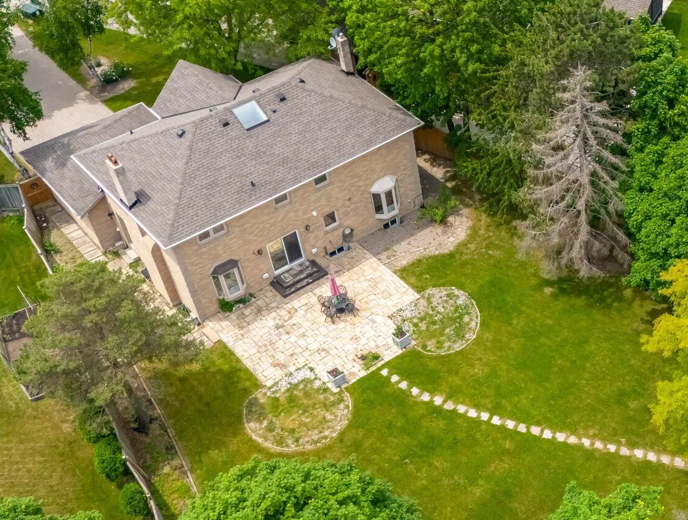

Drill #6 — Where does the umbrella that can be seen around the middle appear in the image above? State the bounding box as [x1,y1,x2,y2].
[329,278,342,304]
